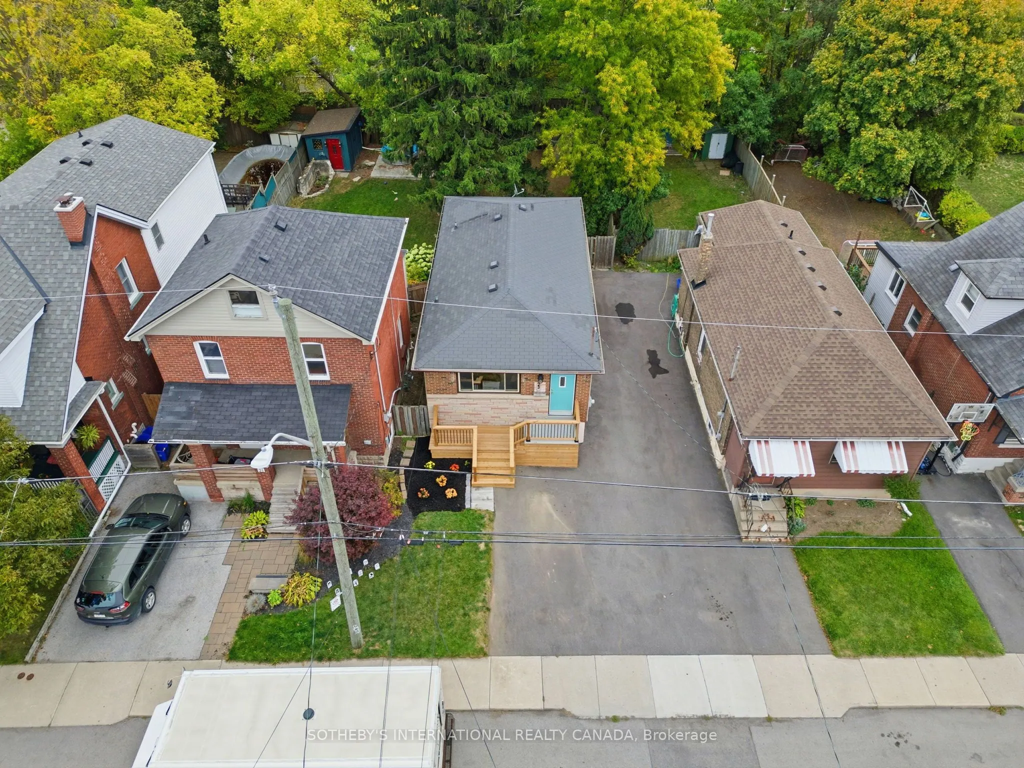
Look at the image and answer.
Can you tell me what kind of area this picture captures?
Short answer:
residential area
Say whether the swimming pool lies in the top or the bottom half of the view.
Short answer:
top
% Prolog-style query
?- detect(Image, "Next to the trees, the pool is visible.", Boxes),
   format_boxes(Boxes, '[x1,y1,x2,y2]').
[210,142,300,205]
